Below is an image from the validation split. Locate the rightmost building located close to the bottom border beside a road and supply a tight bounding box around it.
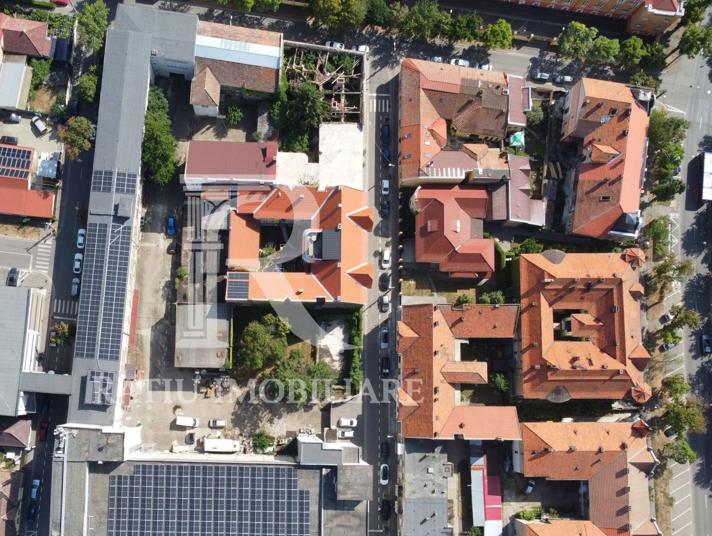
[512,418,663,536]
